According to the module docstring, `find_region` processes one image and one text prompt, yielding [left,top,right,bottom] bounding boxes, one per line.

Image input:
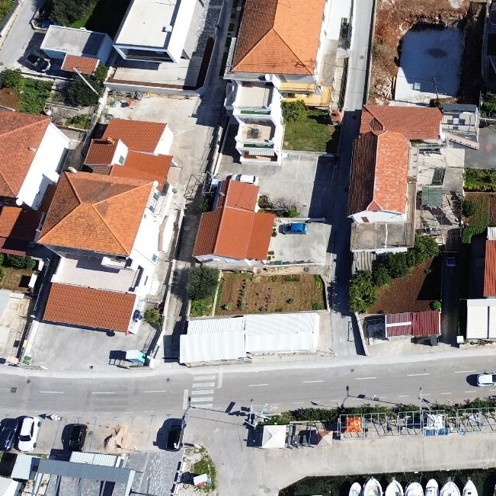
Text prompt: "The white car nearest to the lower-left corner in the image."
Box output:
[14,416,40,450]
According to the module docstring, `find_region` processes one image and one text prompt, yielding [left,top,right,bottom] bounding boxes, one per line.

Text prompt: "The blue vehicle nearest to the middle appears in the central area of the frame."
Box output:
[282,219,307,233]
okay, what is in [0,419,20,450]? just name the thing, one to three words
car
